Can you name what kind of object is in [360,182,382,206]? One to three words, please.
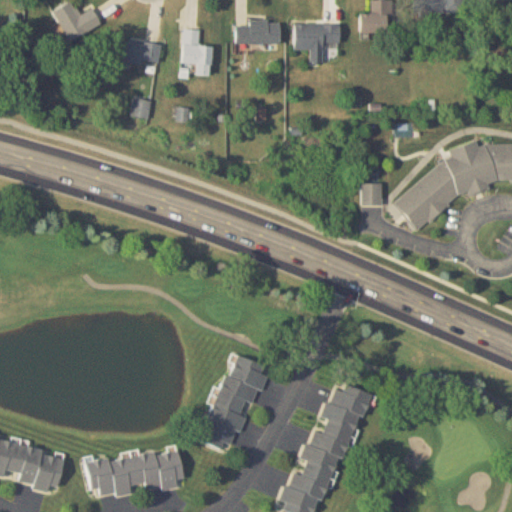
building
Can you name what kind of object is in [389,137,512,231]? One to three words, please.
building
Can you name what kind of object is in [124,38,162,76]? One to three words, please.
house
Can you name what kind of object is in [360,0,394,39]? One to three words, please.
house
